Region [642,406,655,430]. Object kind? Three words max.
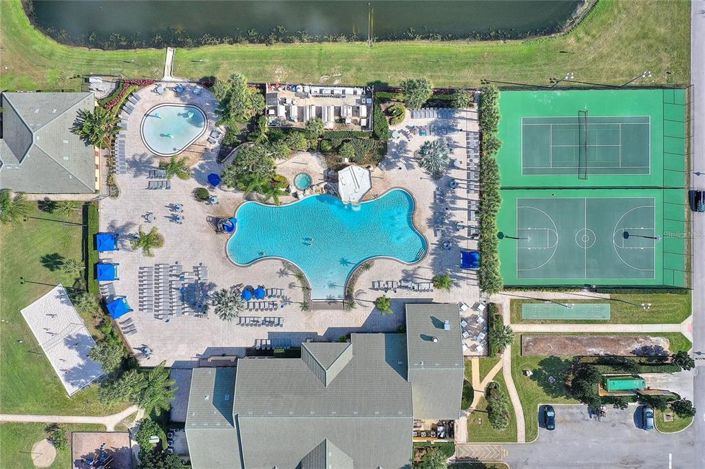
vehicle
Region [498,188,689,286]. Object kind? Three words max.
basketball court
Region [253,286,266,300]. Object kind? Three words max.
umbrella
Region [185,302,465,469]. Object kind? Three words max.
building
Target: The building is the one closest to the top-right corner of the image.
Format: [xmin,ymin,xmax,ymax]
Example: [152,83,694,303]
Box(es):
[335,163,373,204]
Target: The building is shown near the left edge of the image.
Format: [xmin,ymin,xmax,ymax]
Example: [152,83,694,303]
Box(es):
[0,92,103,192]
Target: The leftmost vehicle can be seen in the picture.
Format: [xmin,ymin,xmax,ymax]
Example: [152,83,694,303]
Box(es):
[545,404,558,430]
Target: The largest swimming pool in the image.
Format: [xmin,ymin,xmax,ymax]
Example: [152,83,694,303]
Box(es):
[224,186,430,302]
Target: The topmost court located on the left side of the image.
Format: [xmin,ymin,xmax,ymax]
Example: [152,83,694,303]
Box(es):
[19,283,106,399]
